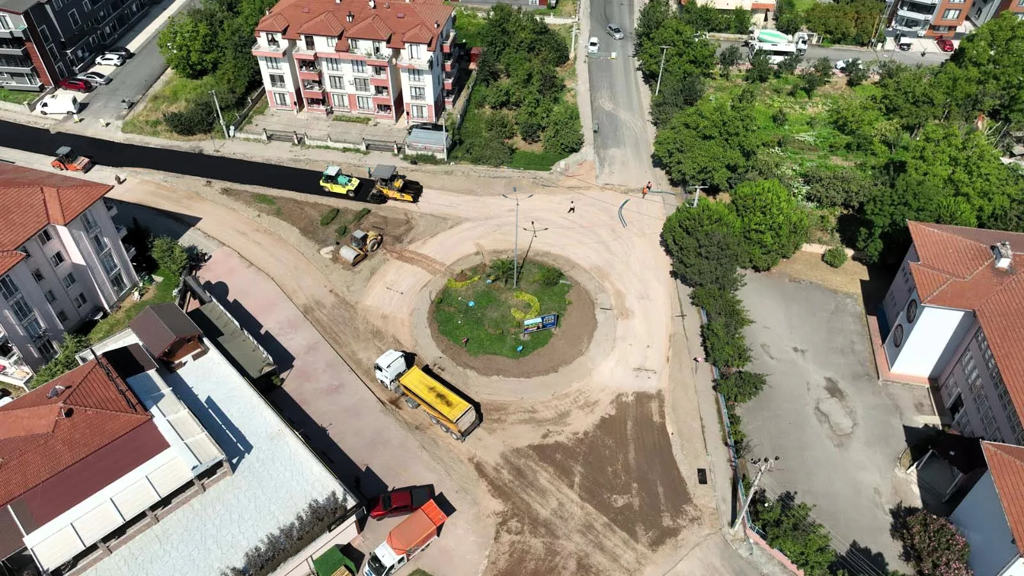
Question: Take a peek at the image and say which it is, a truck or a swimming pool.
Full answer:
The one in the frame is a truck.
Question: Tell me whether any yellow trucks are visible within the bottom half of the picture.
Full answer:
Yes, you'll find a yellow truck within the bottom half of the picture.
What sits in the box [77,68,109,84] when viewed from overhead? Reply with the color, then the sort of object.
gray car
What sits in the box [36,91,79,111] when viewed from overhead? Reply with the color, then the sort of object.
white vehicle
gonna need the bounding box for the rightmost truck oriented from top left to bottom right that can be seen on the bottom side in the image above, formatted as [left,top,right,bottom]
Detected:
[366,350,477,435]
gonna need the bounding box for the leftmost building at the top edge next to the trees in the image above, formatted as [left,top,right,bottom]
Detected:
[0,0,193,94]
